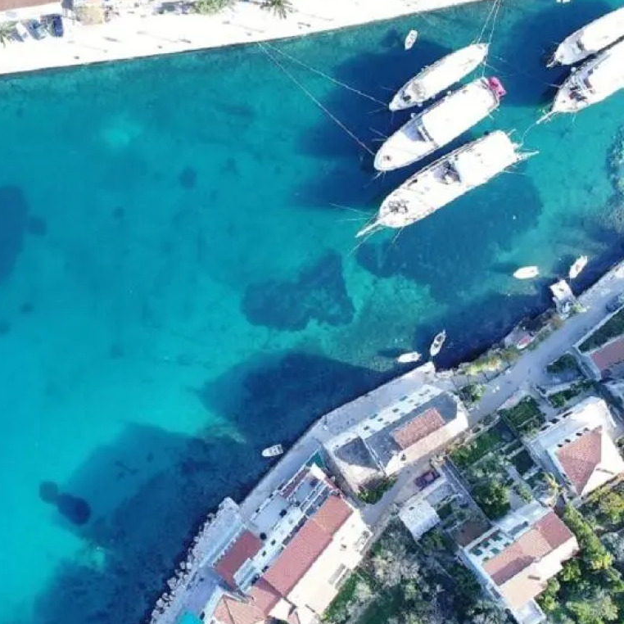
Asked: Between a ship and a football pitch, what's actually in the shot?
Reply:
ship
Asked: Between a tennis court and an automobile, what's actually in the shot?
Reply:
automobile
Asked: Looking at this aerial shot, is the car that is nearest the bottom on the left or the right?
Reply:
right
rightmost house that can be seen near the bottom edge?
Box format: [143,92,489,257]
[457,497,585,624]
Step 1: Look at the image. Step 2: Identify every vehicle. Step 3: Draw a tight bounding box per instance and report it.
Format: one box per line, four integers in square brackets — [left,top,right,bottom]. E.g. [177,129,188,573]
[604,291,624,309]
[416,467,439,488]
[30,16,47,41]
[52,12,63,37]
[13,21,31,43]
